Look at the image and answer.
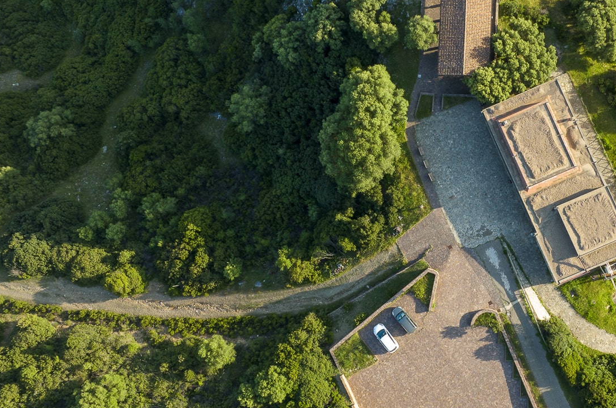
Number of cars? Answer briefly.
2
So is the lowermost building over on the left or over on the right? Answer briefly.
right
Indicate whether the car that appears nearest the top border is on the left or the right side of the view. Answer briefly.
right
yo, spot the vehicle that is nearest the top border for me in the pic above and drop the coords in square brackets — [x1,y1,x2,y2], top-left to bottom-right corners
[393,304,418,337]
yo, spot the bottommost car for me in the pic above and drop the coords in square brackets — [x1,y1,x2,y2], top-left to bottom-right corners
[375,322,399,355]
